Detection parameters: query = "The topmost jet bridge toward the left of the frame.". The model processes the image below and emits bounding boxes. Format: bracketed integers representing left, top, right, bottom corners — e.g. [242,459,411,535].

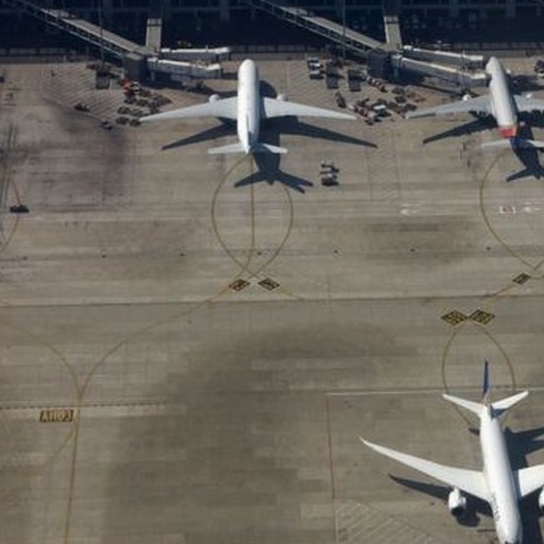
[157,42,237,66]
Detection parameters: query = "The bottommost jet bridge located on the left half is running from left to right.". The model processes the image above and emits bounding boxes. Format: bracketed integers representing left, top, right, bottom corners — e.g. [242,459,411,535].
[143,59,231,95]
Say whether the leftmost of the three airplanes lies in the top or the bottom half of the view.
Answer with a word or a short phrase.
top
